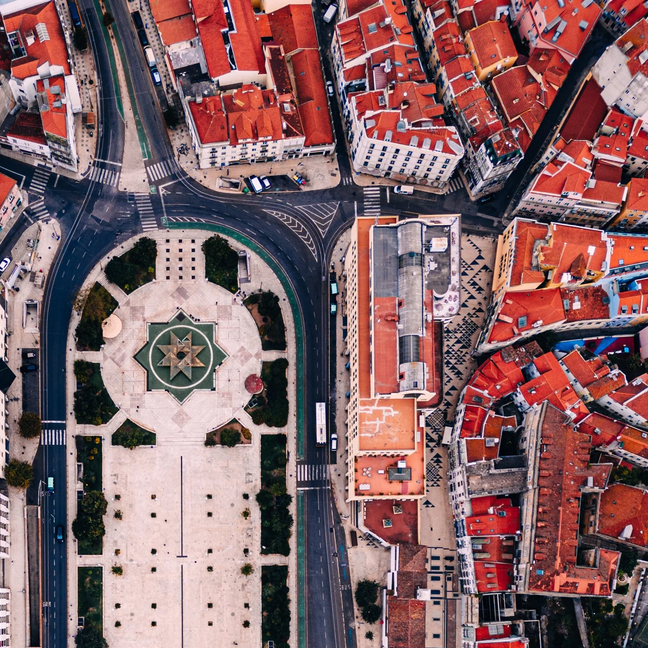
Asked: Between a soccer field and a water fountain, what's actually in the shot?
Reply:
water fountain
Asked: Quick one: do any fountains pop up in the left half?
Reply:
Yes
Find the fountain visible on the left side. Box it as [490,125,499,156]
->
[132,308,228,404]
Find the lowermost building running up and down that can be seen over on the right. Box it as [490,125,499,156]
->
[383,543,430,648]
